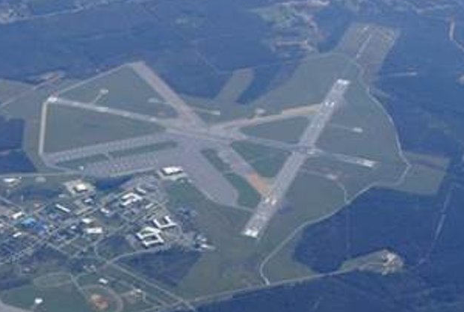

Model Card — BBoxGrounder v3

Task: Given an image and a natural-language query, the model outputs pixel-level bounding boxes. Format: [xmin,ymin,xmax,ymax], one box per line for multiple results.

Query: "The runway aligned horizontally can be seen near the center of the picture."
[46,97,381,166]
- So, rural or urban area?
rural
